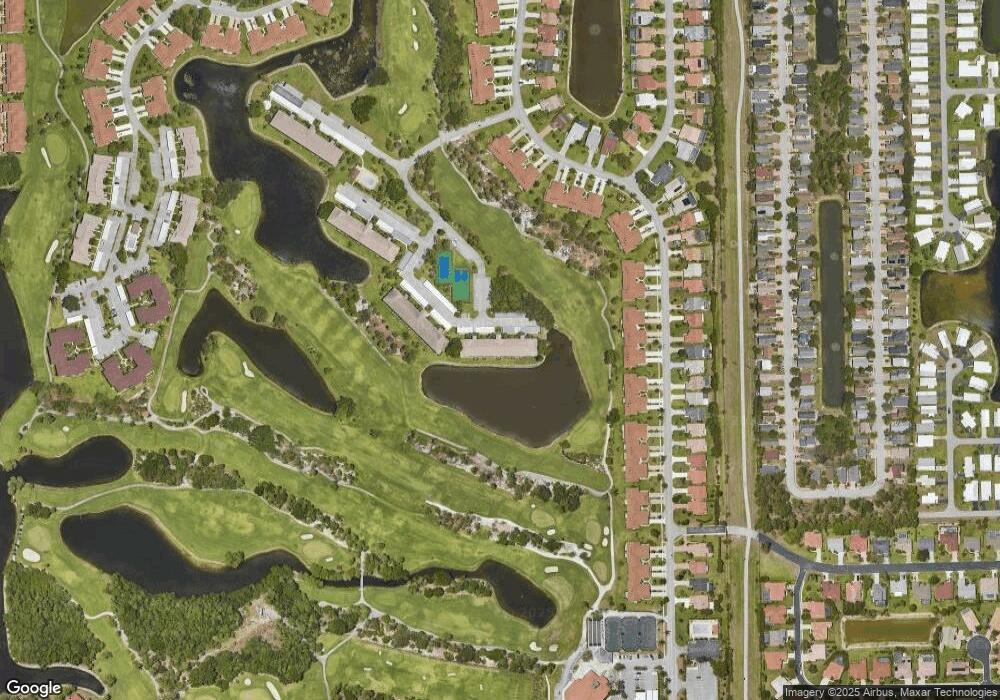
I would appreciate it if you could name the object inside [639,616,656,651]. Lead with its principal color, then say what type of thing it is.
gray tennis court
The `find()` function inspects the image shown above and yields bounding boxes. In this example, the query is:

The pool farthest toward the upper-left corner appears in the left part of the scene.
[124,222,143,252]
